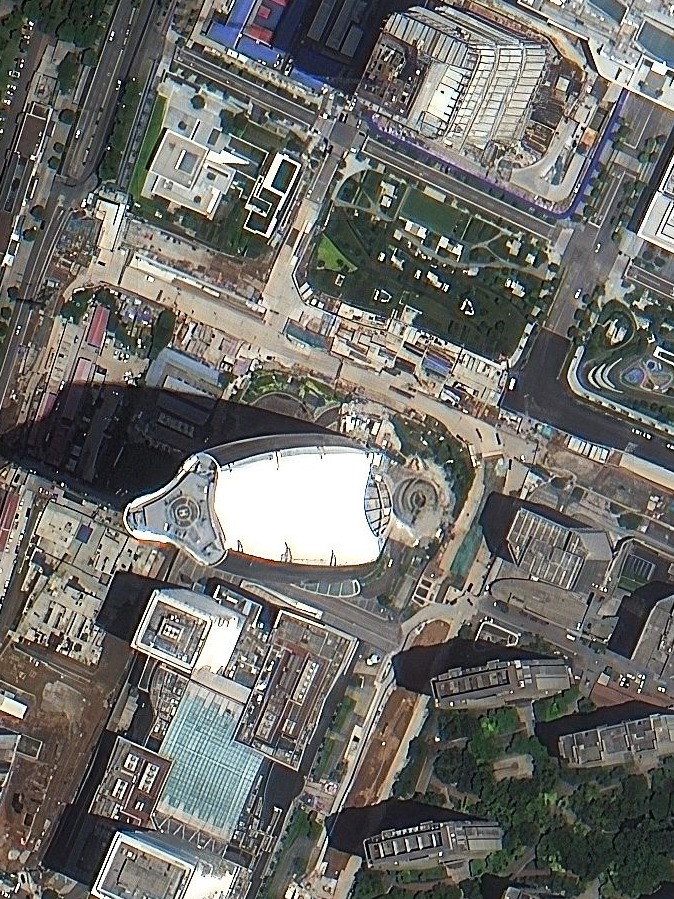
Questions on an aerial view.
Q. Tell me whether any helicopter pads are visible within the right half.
No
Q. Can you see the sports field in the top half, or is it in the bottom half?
top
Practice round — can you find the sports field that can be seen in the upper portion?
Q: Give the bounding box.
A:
[400,188,471,241]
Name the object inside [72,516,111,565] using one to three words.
building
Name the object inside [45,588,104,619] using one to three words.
building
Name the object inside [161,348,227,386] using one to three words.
shed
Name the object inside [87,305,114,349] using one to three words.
shed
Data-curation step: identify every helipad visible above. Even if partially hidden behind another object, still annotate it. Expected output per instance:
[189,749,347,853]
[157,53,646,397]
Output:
[168,494,200,529]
